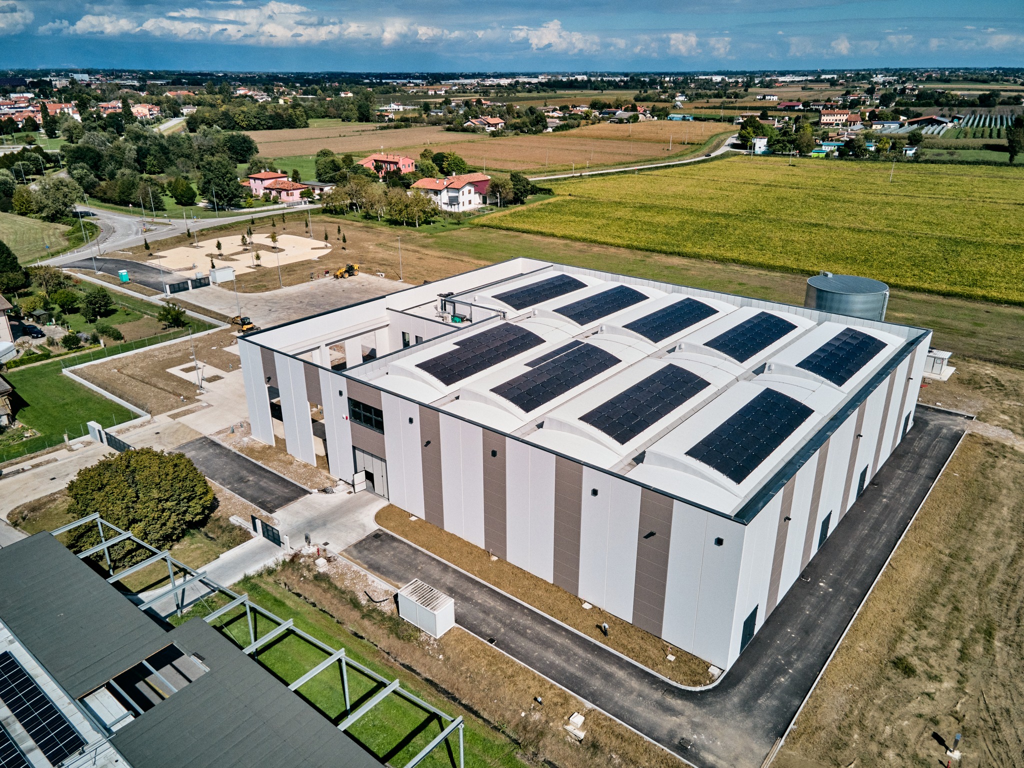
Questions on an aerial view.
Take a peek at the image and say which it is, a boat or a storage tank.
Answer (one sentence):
Looking from above, you can make out a storage tank.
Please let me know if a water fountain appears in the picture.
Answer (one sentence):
No, there's no water fountain here.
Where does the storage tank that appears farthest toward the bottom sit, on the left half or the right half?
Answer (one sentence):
The storage tank that appears farthest toward the bottom is on the right side of the image.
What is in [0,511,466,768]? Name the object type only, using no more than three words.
building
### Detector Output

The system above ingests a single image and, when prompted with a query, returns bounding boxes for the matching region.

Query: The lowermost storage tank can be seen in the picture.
[804,270,906,323]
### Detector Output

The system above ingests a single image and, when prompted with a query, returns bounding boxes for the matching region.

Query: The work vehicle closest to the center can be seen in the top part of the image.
[334,264,362,281]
